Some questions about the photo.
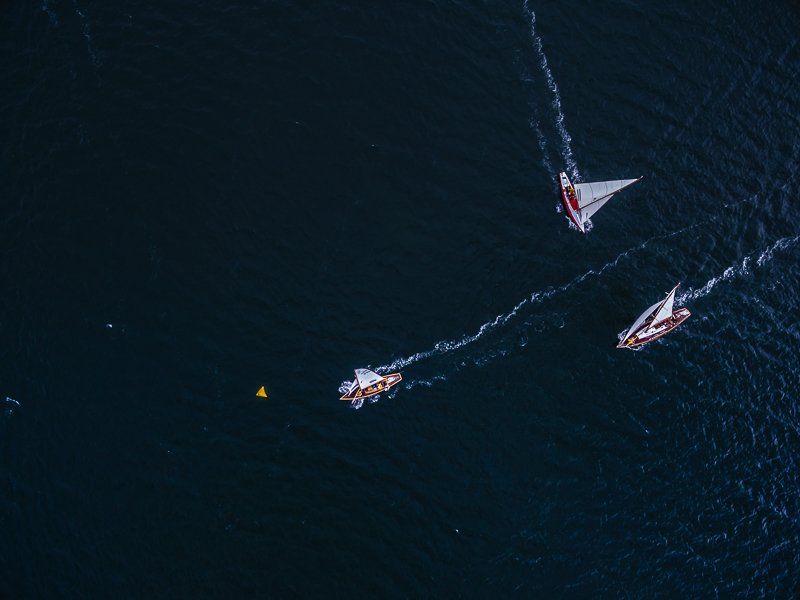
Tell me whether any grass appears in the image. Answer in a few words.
No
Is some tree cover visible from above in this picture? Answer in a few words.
No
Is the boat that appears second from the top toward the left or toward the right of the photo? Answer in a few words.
right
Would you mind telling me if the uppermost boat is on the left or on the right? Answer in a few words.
right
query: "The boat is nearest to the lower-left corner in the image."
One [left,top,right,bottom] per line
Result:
[340,369,403,404]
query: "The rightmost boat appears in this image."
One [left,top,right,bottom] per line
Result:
[616,282,691,348]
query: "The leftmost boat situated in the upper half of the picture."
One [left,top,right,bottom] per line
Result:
[559,172,643,233]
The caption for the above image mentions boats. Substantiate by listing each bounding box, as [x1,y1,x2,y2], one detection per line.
[616,282,691,348]
[559,172,643,233]
[340,369,403,404]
